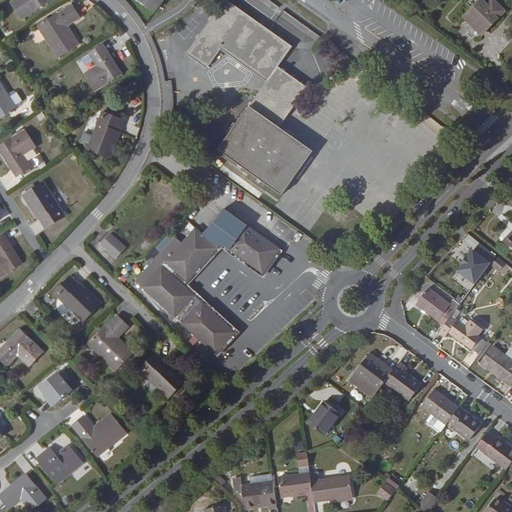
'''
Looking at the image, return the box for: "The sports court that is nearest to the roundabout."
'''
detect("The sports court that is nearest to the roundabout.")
[294,121,366,223]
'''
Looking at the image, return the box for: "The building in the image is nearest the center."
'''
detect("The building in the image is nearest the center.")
[228,226,282,276]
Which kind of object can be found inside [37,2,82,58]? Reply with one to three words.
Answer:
house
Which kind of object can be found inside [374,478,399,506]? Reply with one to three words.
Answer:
barn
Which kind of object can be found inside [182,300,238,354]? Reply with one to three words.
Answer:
building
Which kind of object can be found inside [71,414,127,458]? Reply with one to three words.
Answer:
house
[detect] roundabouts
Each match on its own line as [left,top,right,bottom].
[322,270,384,332]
